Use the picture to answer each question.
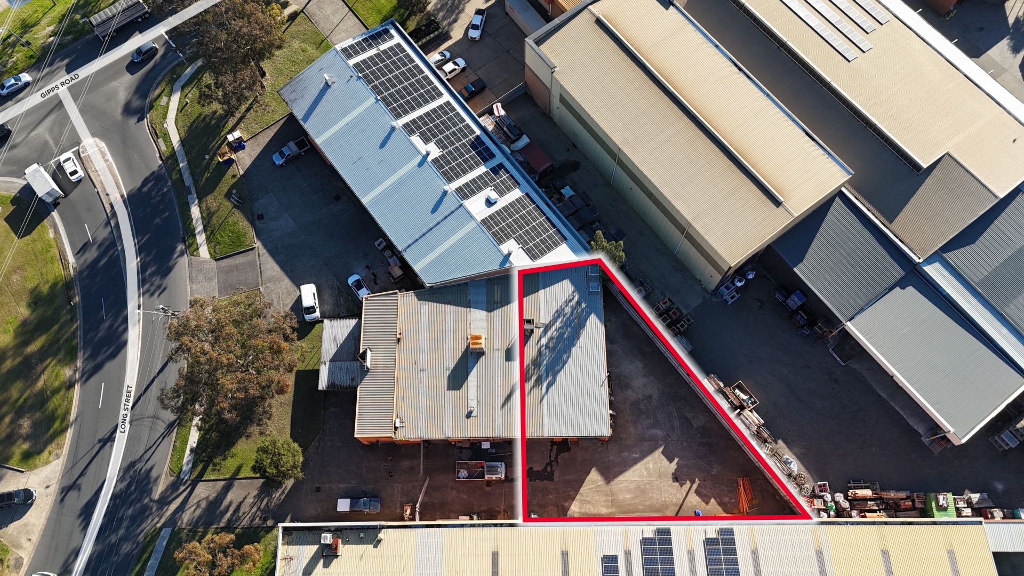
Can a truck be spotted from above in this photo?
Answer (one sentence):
Yes, there is a truck in the image.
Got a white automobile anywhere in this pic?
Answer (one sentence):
Yes, the picture does show a white automobile.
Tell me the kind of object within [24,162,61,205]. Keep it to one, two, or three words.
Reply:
truck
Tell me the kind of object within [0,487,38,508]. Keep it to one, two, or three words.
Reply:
car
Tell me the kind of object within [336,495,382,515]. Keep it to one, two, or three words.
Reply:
vehicle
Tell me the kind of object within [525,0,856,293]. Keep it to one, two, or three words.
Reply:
warehouse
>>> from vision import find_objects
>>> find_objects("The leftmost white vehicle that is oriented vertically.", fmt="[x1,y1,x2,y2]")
[300,281,320,322]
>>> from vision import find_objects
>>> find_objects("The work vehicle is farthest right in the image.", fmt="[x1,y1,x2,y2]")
[788,289,812,312]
